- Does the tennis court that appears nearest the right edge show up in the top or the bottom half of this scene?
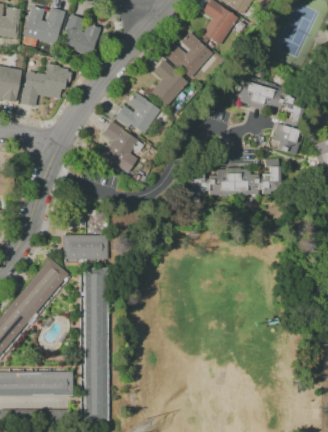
top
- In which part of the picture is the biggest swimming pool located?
bottom left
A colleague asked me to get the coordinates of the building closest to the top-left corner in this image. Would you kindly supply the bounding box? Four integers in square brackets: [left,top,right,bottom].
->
[0,0,20,38]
